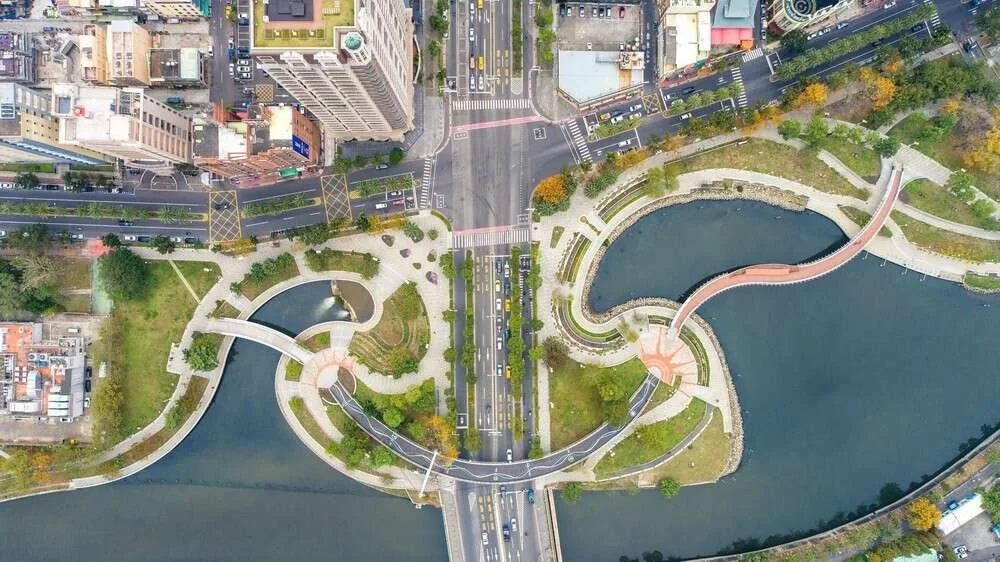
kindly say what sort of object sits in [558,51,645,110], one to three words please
building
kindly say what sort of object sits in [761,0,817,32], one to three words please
building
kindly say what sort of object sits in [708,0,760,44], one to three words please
house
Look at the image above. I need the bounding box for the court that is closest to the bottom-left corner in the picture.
[92,257,113,312]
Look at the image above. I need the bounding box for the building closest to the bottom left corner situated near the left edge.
[0,322,85,416]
